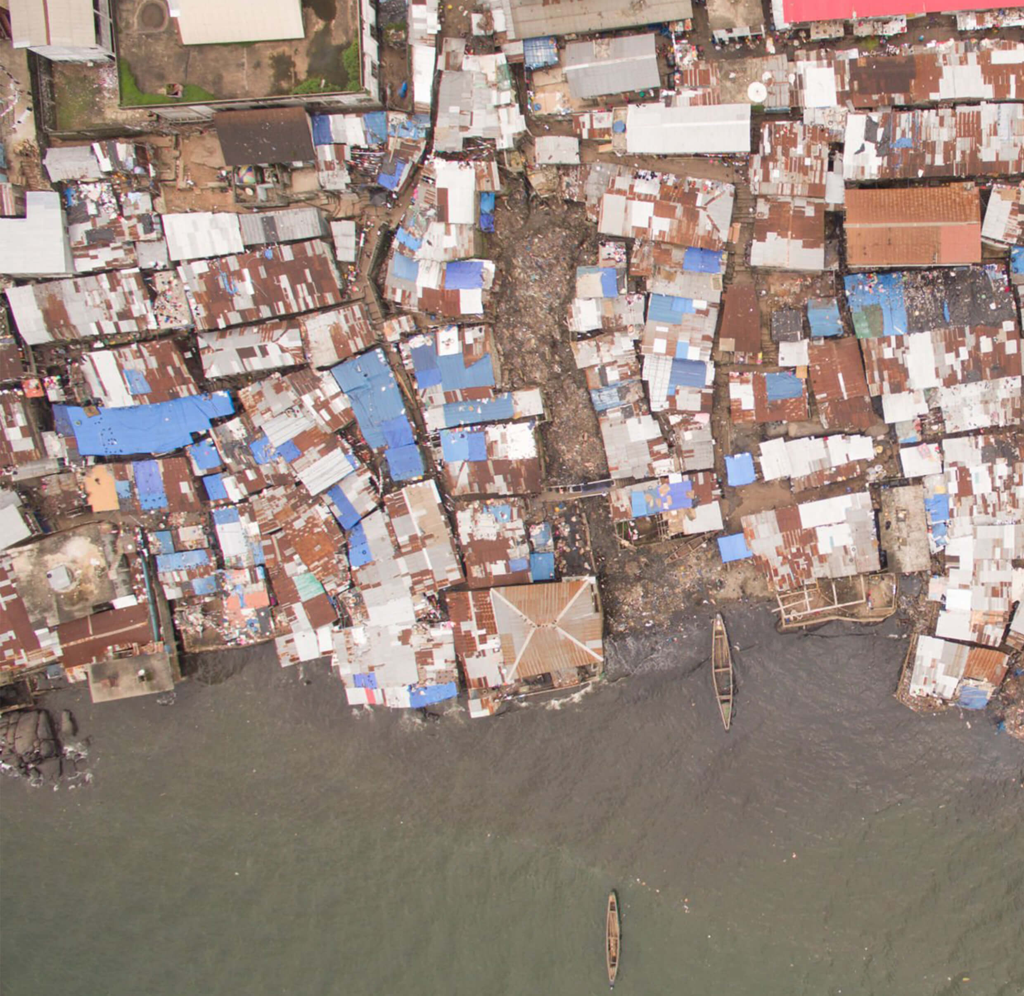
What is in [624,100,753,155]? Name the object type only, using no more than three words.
building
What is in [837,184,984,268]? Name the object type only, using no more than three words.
house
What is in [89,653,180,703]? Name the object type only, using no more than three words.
house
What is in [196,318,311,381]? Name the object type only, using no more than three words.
shed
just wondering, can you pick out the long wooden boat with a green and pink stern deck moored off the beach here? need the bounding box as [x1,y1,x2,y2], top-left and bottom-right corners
[712,611,733,732]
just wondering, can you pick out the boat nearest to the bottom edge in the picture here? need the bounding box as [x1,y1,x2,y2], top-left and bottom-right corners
[604,888,620,987]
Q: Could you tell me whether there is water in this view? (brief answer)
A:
Yes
